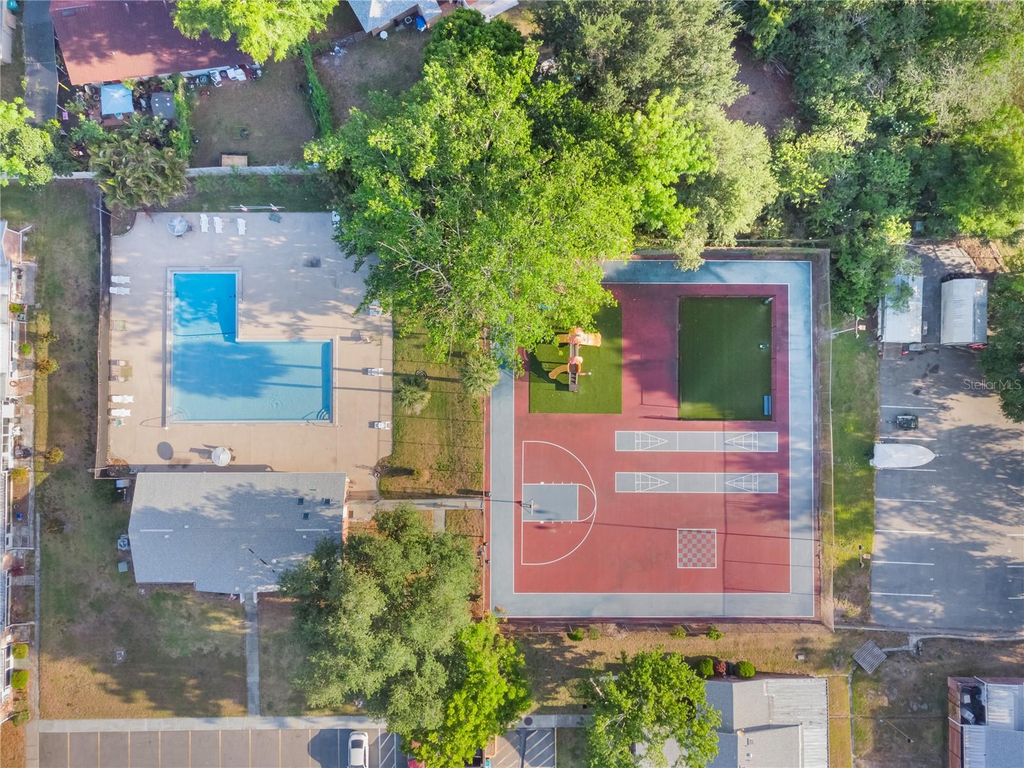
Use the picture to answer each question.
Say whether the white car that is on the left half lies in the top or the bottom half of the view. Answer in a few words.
bottom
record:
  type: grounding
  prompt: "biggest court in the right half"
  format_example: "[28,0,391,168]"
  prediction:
[484,253,821,624]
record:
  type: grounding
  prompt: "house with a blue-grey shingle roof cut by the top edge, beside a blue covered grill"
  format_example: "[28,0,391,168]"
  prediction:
[350,0,442,39]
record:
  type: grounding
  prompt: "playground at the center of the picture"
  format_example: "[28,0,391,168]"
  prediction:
[529,296,622,413]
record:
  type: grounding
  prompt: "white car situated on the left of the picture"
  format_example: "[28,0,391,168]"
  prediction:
[347,728,370,768]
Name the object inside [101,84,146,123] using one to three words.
gazebo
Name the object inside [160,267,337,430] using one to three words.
swimming pool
